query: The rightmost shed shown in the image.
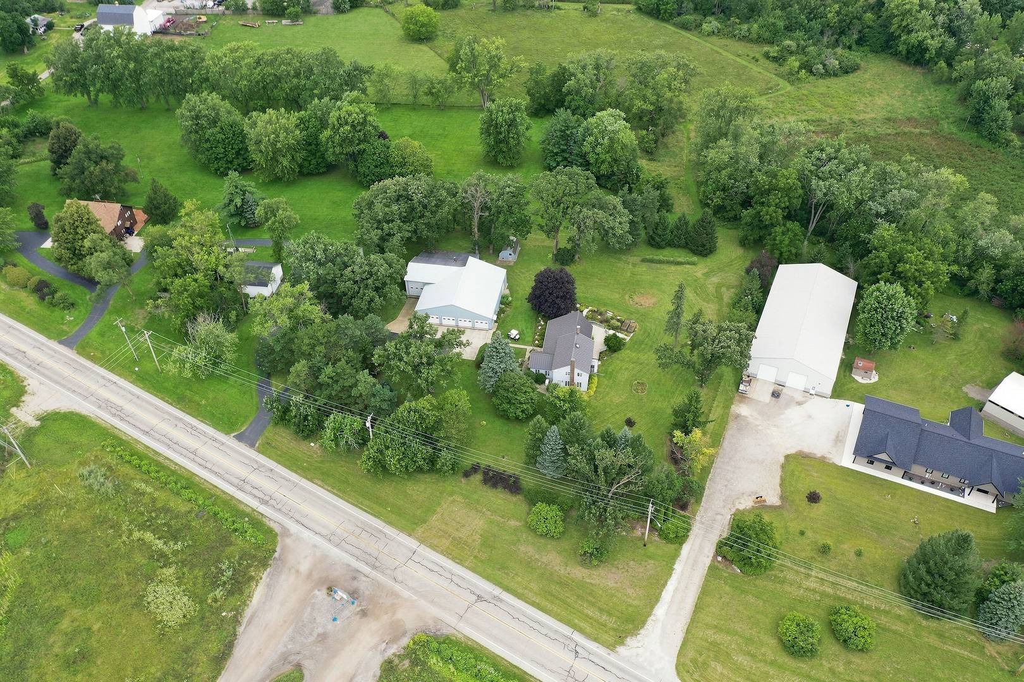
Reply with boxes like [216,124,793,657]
[982,376,1024,431]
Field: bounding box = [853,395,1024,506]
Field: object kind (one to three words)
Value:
house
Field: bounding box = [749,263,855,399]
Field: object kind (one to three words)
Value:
barn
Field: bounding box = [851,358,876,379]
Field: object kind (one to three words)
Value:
shed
